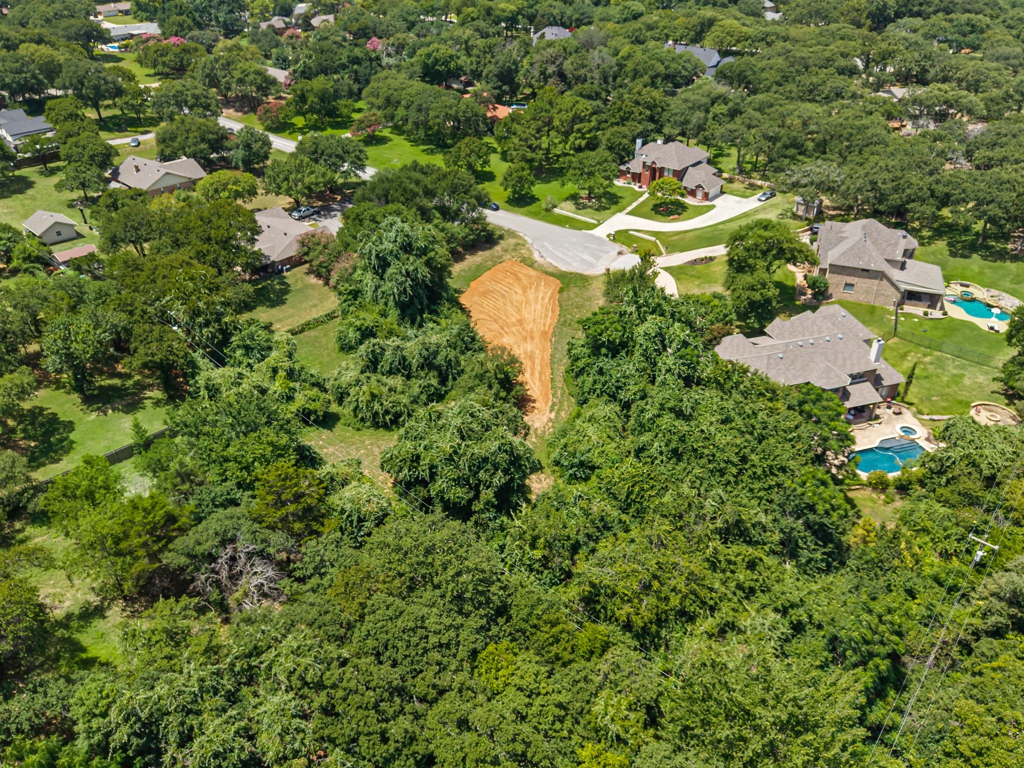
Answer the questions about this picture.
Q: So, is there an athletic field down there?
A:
No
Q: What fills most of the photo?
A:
trees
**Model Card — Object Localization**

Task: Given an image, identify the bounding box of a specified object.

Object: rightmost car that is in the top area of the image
[809,222,821,236]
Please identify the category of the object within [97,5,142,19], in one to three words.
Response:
house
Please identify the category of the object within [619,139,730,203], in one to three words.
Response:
house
